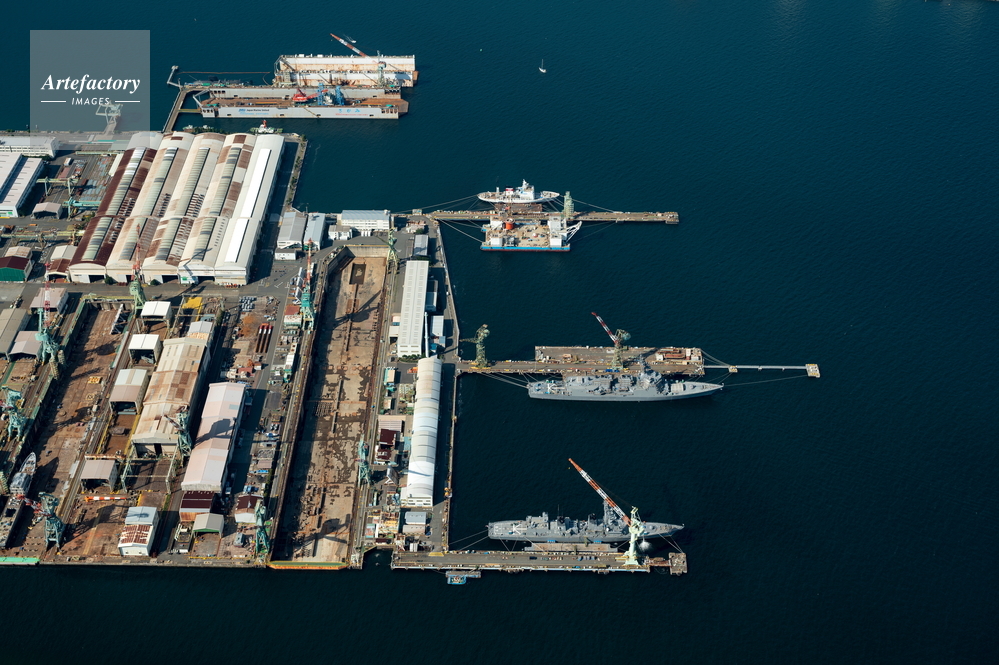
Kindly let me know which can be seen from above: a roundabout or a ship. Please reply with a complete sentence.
I can see a ship in this picture.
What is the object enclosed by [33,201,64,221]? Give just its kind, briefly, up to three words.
shed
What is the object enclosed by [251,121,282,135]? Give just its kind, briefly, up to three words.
boat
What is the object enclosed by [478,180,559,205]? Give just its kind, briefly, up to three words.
ship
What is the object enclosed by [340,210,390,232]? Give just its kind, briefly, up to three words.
building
